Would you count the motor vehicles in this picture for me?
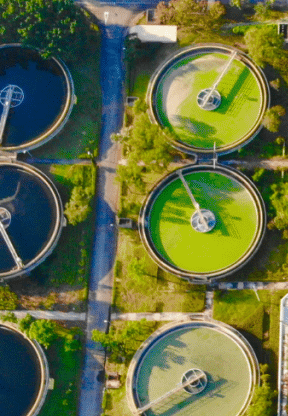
zero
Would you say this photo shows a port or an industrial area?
industrial area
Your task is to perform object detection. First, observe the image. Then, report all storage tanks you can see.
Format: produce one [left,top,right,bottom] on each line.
[0,42,82,163]
[126,311,259,416]
[147,44,269,168]
[0,160,71,284]
[137,164,265,290]
[0,318,56,416]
